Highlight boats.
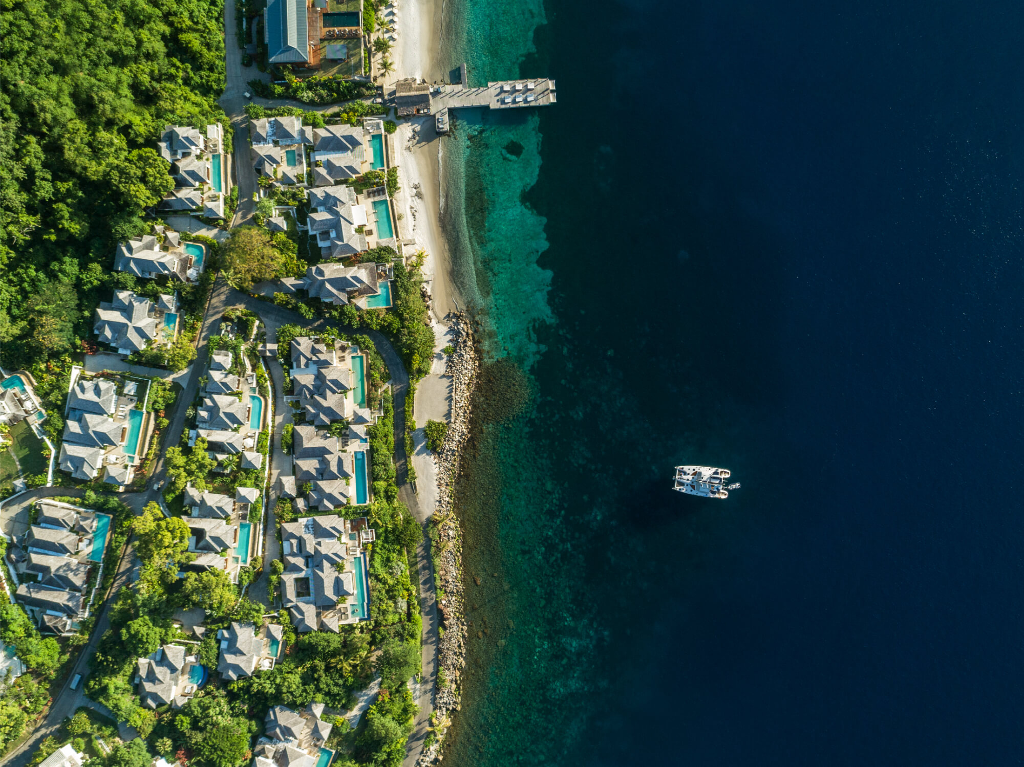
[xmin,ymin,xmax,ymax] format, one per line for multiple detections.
[728,483,741,489]
[672,466,730,499]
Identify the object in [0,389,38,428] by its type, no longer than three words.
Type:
house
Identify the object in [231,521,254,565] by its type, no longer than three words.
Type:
swimming pool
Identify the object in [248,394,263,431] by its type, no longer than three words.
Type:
swimming pool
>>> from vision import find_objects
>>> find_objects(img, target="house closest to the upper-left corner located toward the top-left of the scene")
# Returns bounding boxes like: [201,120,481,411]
[156,125,221,212]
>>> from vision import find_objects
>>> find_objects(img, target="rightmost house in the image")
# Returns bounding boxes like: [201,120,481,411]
[395,80,432,121]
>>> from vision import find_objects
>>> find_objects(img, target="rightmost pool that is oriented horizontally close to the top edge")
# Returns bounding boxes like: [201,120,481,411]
[323,11,360,27]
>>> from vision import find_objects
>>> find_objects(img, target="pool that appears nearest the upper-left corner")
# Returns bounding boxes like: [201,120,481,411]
[210,153,222,193]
